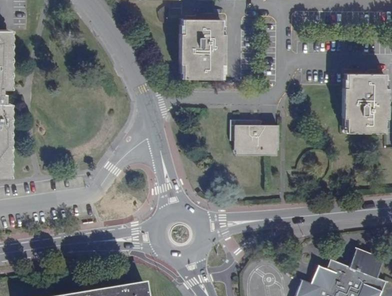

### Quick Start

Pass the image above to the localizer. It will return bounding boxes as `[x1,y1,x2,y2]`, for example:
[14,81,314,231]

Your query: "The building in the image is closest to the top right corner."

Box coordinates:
[340,75,391,134]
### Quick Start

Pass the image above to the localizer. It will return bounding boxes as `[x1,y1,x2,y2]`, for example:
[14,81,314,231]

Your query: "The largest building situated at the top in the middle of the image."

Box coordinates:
[178,20,228,80]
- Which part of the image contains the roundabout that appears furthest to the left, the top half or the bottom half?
bottom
